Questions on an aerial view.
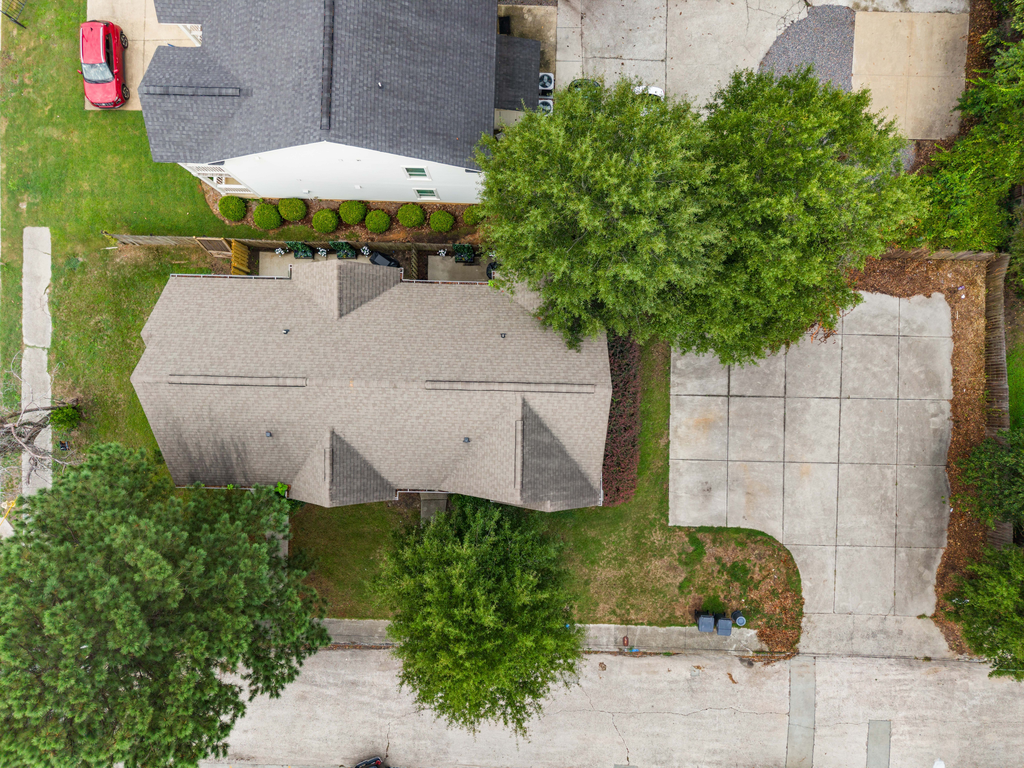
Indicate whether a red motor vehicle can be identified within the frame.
Yes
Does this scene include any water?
No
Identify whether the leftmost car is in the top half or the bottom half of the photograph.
top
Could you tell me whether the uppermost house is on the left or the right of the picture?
left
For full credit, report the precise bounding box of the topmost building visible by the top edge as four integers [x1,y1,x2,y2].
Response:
[137,0,541,203]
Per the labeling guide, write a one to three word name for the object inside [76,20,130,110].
car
